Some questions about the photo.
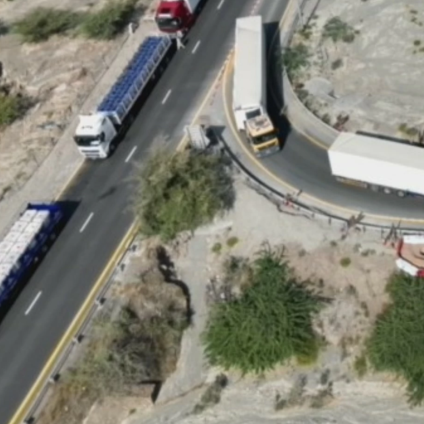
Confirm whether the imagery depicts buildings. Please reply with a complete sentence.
No, I can't see a single building in this photo.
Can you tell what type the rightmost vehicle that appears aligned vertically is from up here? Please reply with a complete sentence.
From above, the rightmost vehicle that appears aligned vertically can be identified as a truck.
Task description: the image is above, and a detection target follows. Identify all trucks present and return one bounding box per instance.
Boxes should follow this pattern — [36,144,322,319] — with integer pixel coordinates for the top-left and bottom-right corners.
[150,0,203,39]
[330,130,424,198]
[0,203,64,306]
[233,15,281,159]
[71,35,175,158]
